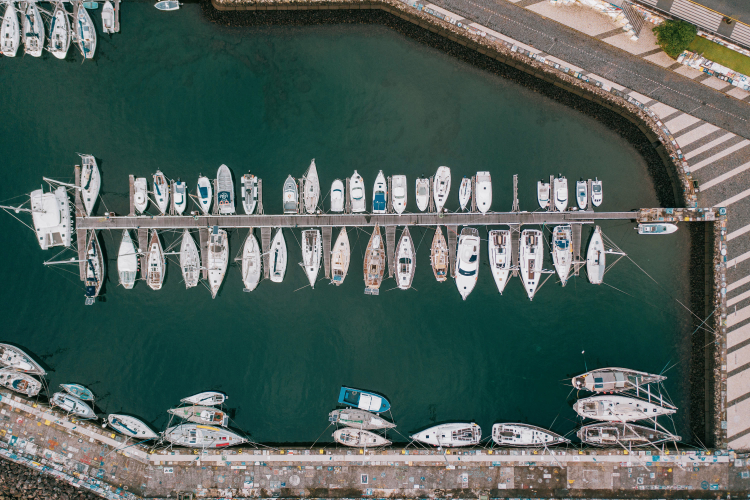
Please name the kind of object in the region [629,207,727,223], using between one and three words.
pier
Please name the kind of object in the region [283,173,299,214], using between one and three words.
boat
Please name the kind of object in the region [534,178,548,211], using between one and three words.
boat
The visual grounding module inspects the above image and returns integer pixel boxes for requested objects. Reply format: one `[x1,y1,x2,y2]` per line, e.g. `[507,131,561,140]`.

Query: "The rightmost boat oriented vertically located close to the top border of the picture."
[101,1,116,36]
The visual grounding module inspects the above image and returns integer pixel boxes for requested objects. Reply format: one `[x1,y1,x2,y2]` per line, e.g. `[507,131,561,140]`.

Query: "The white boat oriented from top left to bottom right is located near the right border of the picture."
[587,223,715,332]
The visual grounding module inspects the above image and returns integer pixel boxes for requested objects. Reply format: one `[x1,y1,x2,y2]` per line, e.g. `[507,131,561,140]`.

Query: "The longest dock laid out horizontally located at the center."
[76,212,595,229]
